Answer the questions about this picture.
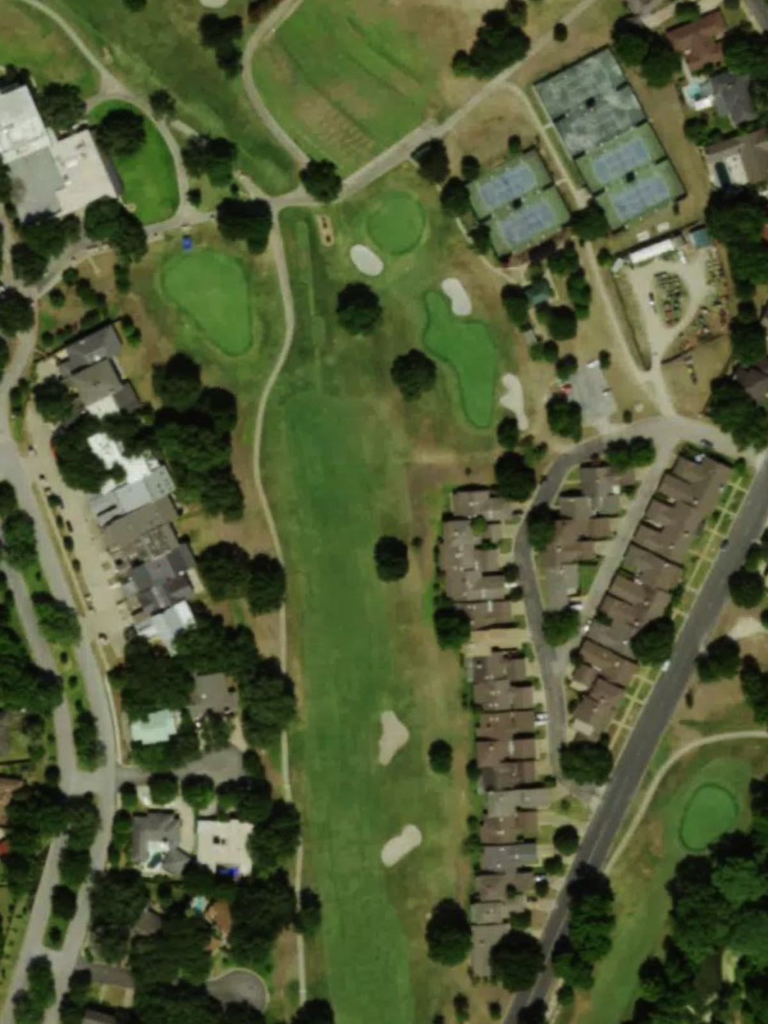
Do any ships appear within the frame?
No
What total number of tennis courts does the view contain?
6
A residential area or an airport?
residential area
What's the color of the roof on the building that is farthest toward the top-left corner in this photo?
white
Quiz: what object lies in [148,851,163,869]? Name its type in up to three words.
swimming pool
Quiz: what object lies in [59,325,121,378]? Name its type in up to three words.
house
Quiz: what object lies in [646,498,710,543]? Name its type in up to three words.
house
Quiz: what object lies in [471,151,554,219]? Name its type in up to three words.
tennis court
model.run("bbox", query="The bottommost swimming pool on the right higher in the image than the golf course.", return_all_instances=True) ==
[715,161,730,190]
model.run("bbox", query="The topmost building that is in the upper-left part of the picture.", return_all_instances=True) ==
[0,84,123,224]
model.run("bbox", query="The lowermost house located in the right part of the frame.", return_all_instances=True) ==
[472,926,511,978]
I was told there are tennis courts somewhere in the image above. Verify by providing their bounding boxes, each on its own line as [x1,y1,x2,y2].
[486,184,569,252]
[572,120,666,195]
[471,151,554,219]
[552,83,647,158]
[591,156,686,232]
[533,46,628,121]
